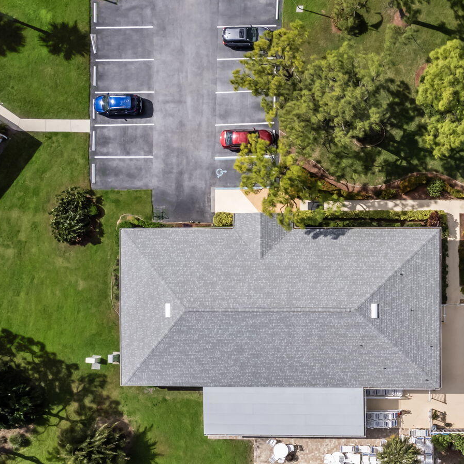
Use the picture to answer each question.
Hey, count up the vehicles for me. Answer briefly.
three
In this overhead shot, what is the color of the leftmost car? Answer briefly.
blue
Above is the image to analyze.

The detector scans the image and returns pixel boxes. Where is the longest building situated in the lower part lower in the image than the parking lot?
[119,212,441,387]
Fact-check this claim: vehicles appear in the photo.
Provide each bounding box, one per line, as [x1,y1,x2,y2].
[95,91,144,116]
[222,25,269,51]
[221,127,274,151]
